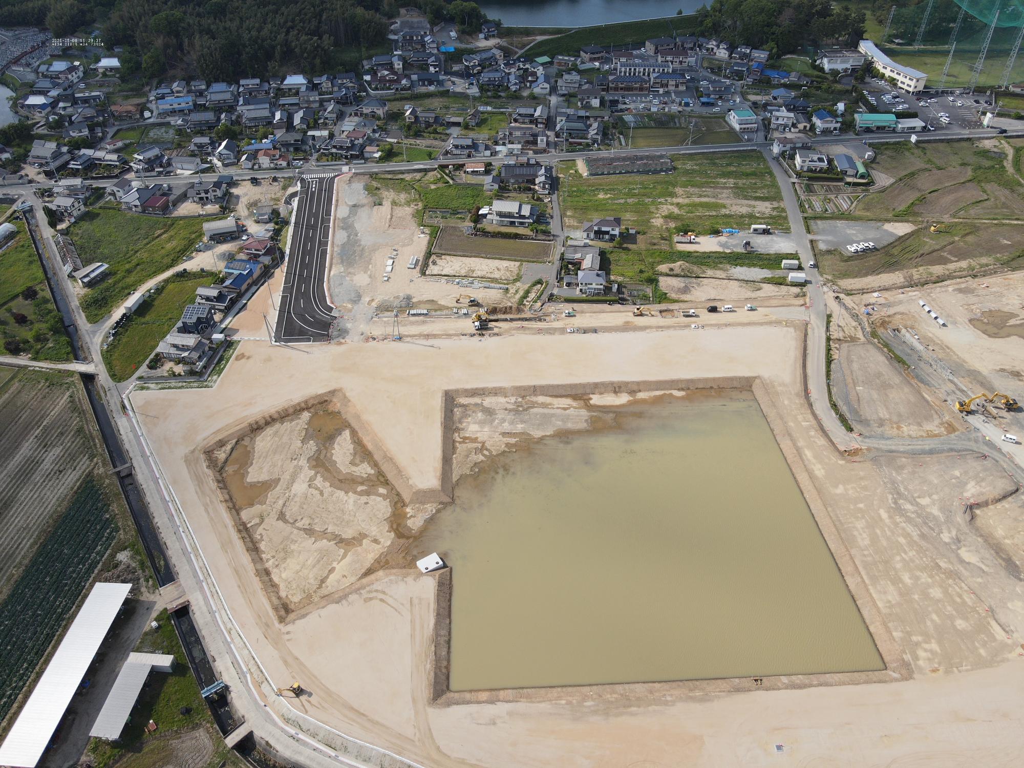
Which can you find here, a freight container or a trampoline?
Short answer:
freight container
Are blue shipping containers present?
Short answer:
No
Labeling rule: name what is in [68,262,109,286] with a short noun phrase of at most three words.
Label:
shed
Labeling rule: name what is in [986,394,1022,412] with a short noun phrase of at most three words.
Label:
work vehicle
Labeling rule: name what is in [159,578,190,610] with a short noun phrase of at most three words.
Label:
bridge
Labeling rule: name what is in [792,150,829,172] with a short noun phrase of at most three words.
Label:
house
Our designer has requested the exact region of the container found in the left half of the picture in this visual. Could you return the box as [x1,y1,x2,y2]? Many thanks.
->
[122,288,161,313]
